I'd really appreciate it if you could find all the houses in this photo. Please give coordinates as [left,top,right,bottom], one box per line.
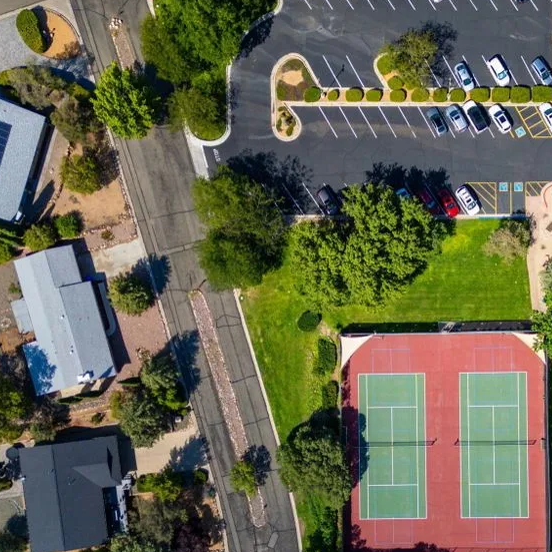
[0,100,52,220]
[11,245,123,396]
[19,436,128,552]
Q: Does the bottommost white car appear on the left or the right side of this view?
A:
right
